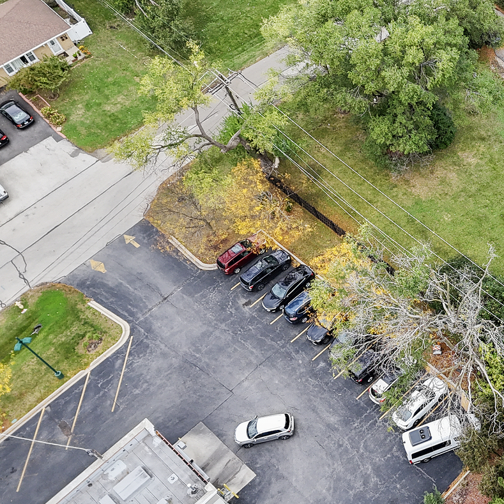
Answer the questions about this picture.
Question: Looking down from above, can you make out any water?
No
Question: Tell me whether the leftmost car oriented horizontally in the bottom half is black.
No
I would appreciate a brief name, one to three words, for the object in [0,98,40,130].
car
